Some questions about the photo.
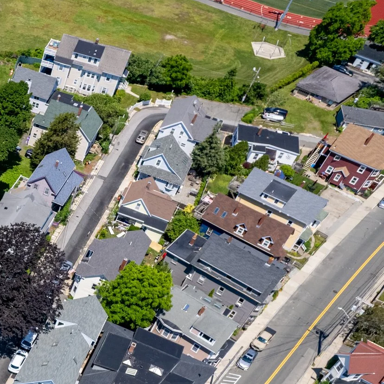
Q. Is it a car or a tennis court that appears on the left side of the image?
car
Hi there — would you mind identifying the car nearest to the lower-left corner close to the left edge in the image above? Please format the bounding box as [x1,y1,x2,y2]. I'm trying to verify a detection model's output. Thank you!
[8,349,29,375]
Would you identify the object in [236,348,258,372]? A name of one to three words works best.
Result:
car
